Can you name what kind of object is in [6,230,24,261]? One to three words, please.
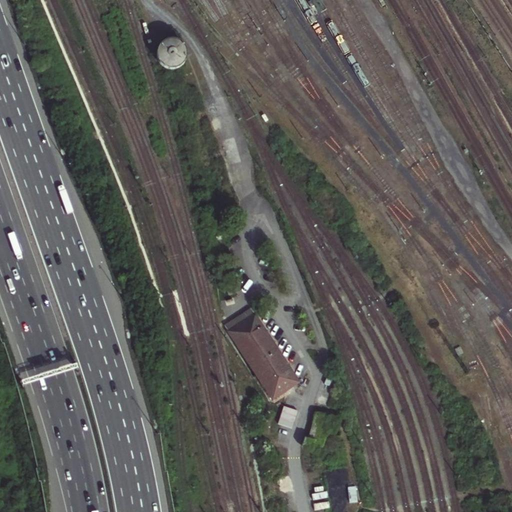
vehicle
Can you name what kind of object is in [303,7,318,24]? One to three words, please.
rail car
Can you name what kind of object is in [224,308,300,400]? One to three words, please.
house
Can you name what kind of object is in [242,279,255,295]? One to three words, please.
vehicle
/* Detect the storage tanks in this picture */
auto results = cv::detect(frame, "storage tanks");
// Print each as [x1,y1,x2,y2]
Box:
[158,37,186,68]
